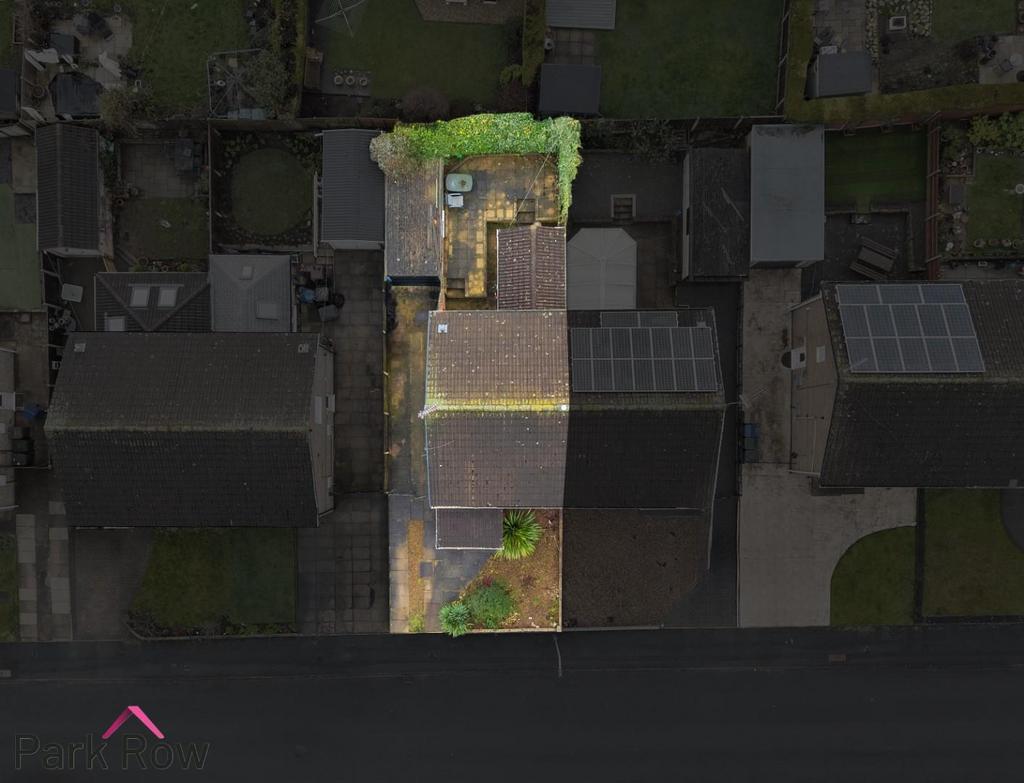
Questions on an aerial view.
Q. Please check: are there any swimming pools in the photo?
No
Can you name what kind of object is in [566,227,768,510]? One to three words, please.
house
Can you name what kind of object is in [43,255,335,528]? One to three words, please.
house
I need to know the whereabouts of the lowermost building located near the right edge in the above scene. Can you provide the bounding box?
[791,278,1024,492]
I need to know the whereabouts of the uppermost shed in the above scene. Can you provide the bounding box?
[547,0,616,32]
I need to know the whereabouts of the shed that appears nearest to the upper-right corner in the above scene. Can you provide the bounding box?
[809,53,872,102]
